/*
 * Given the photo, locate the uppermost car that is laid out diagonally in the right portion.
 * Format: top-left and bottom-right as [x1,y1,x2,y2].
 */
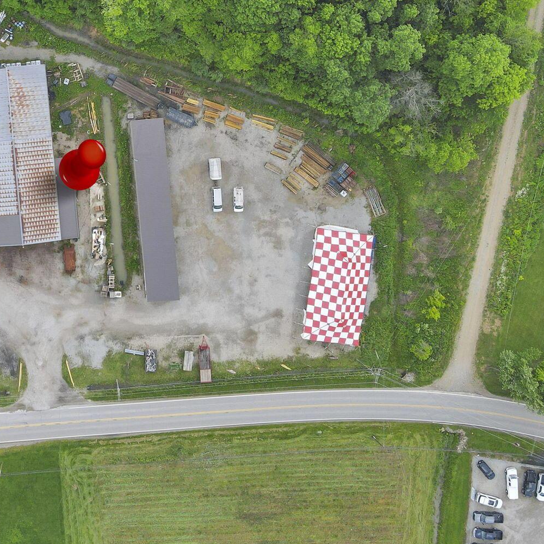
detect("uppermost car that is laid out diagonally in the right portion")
[474,457,496,481]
